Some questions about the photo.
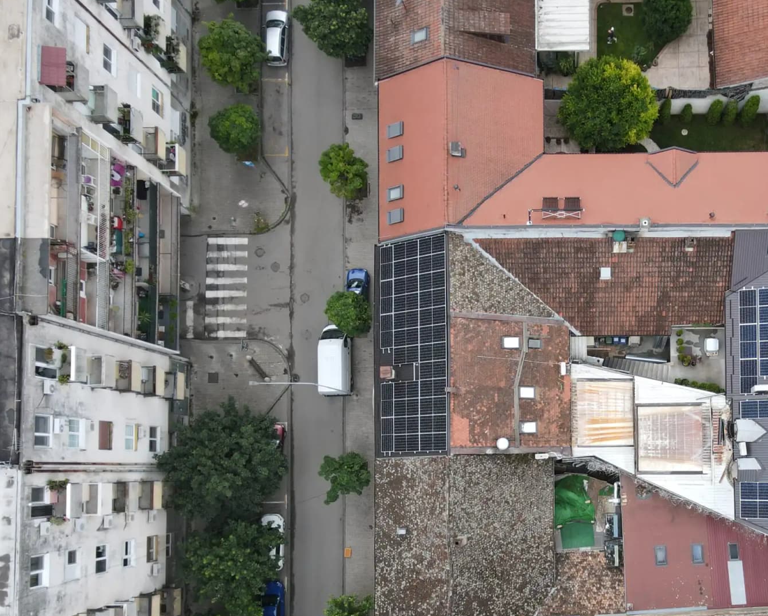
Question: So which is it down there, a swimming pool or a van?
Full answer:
It is a van that can be seen here.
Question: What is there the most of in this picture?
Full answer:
What you mostly see from above here is buildings.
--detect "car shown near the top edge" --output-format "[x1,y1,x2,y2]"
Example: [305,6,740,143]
[261,8,290,64]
